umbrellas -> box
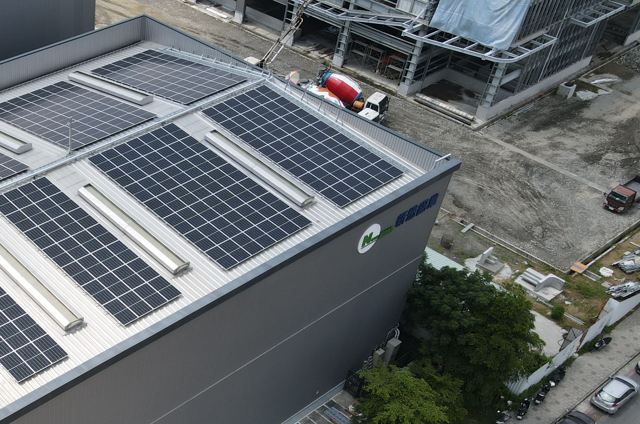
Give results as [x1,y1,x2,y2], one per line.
[285,72,302,86]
